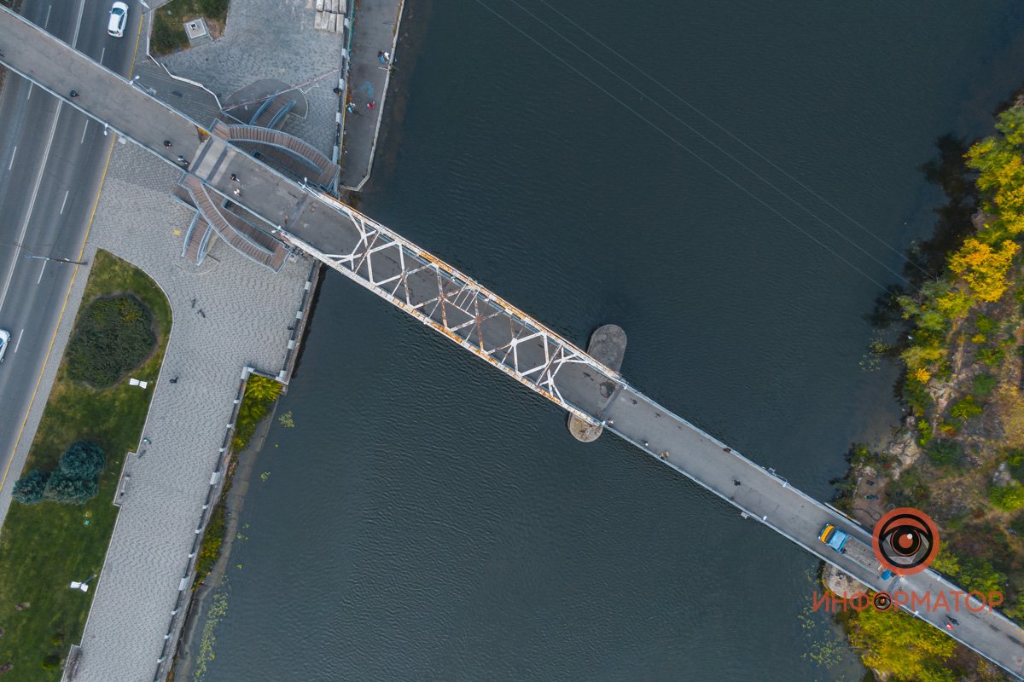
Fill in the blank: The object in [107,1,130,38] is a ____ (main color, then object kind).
white car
